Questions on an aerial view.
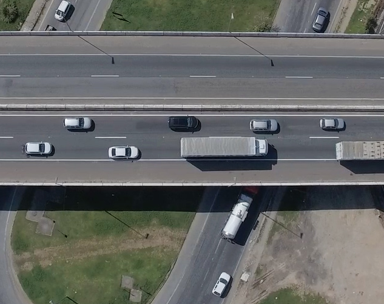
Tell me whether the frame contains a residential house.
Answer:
No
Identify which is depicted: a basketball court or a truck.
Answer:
truck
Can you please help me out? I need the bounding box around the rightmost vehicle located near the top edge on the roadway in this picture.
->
[312,6,331,33]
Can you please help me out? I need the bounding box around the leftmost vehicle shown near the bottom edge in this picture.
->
[212,272,230,300]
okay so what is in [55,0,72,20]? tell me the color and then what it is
white car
